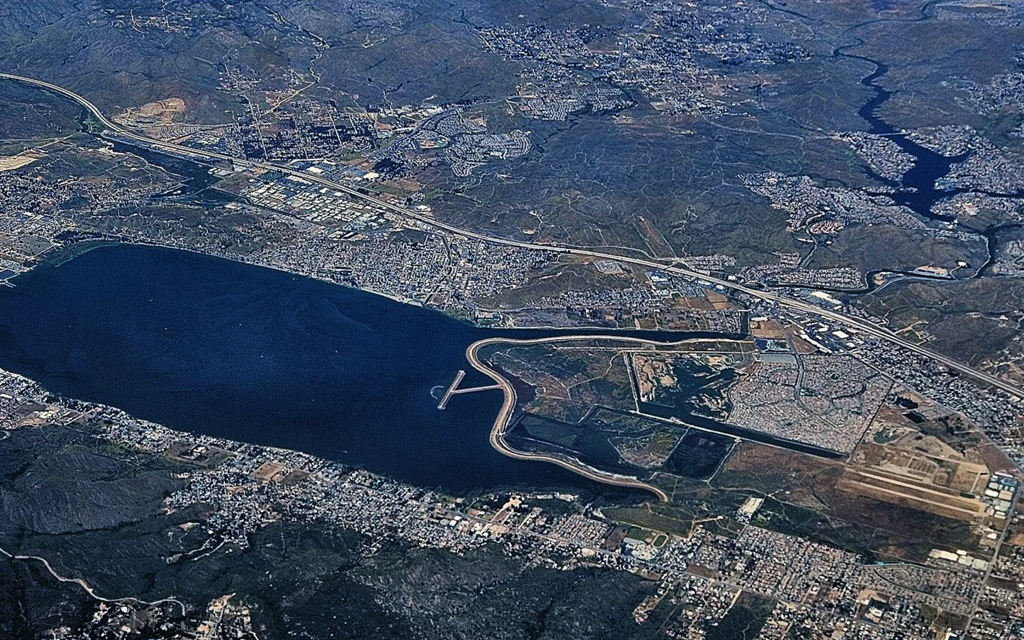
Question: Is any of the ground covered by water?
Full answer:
Yes, some water is visible.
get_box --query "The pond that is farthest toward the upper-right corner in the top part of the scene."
[859,64,1024,223]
